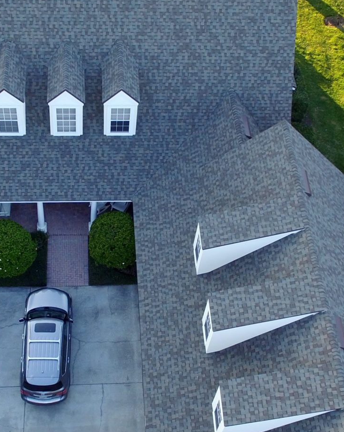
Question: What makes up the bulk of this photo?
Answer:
buildings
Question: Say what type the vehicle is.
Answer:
automobile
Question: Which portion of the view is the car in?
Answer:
bottom left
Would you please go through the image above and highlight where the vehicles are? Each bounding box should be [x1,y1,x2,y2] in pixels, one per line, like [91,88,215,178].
[15,288,74,405]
